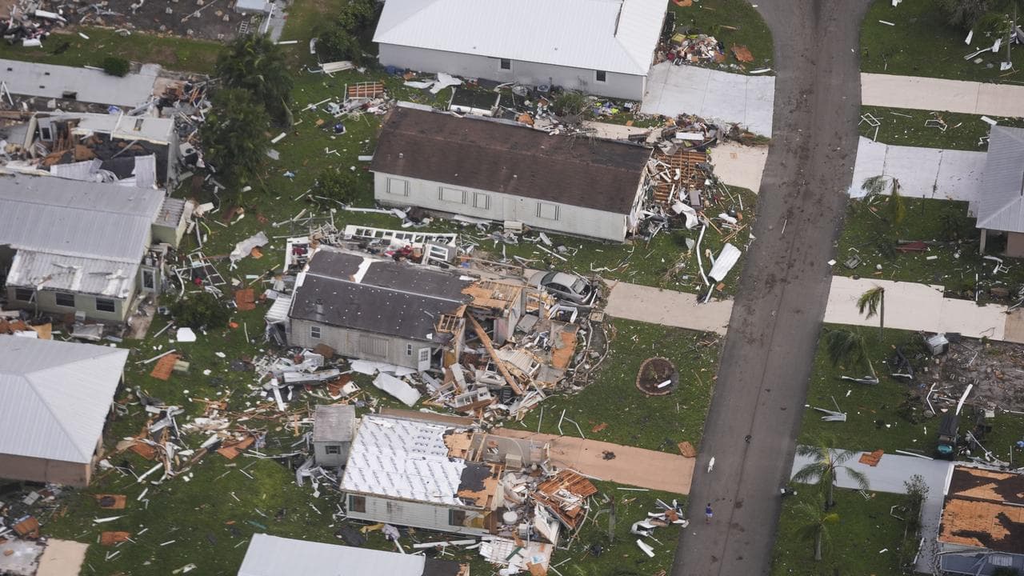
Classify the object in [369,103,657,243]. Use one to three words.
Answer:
house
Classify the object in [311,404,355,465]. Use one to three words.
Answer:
shed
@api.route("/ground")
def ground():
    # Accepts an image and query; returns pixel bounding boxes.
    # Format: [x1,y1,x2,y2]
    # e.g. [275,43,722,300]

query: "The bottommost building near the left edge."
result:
[0,337,129,491]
